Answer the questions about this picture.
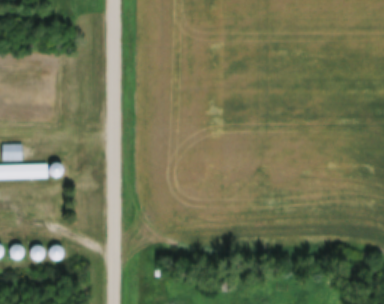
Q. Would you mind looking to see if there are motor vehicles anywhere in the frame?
No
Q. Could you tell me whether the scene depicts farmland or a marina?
farmland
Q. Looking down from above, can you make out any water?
No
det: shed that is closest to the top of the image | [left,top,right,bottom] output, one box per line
[0,143,22,162]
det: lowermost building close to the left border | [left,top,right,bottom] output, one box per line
[0,163,48,180]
